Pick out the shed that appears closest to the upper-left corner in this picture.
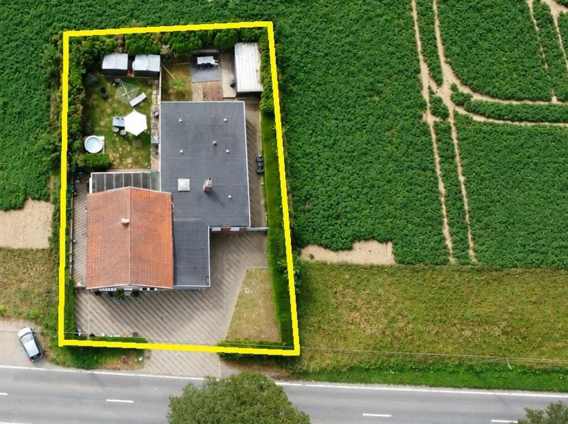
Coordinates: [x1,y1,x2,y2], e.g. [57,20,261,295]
[102,52,128,79]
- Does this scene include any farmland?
Yes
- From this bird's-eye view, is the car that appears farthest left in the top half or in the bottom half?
bottom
